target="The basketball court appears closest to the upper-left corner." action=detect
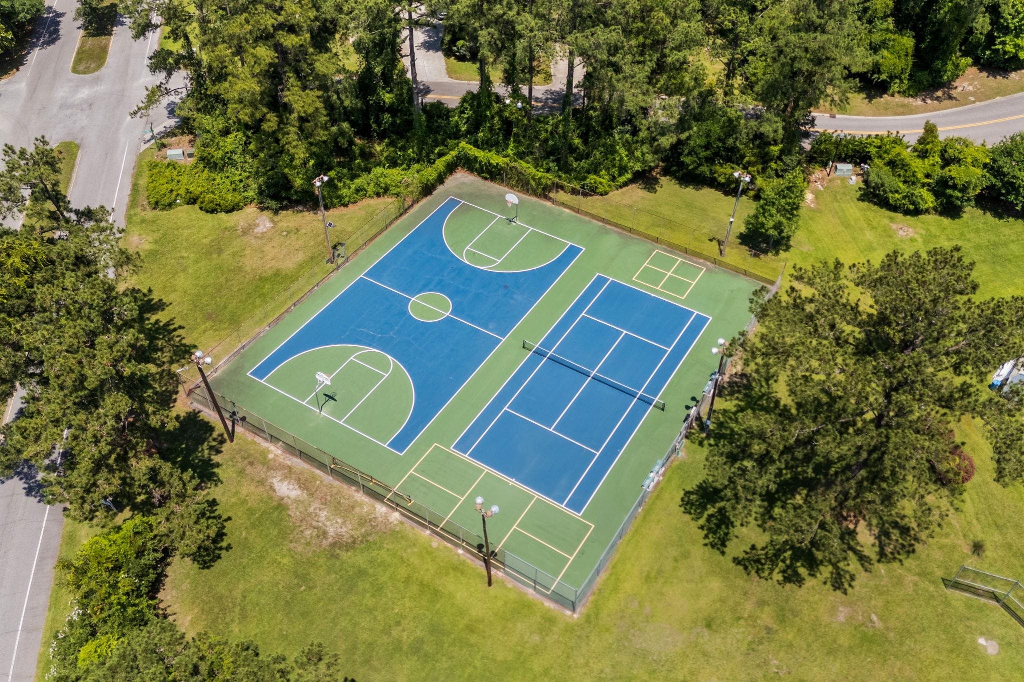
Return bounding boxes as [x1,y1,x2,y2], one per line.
[248,197,585,455]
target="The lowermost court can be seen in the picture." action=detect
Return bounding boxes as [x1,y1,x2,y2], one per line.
[386,443,594,592]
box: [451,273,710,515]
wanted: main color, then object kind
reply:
blue tennis court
